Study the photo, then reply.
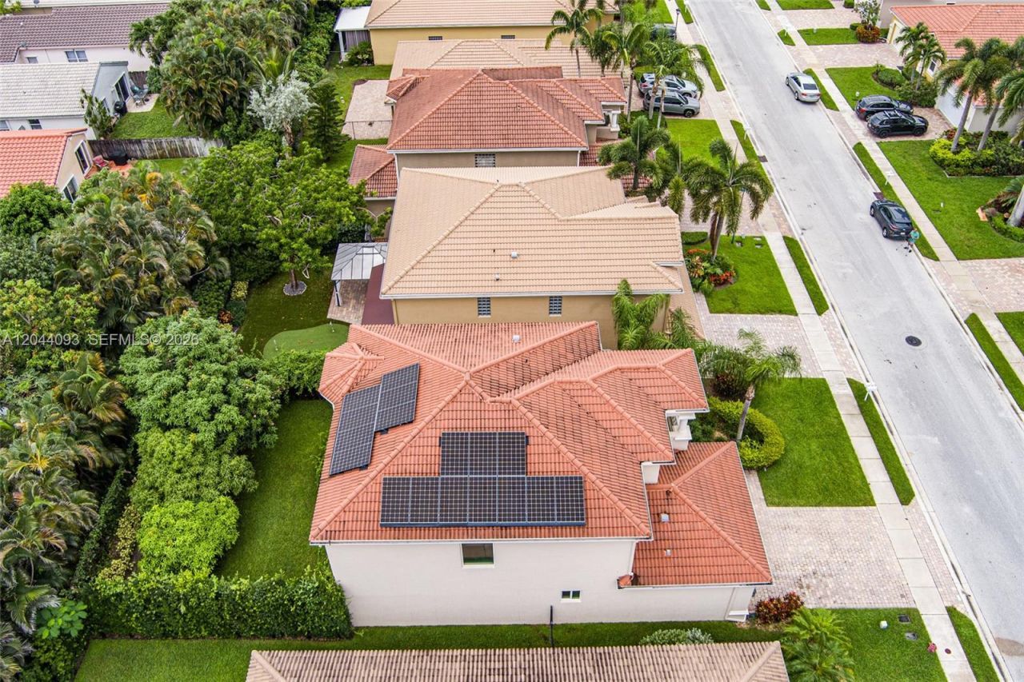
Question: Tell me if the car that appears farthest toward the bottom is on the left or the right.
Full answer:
It is on the right.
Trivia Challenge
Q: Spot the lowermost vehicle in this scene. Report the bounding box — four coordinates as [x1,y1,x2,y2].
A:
[869,197,918,240]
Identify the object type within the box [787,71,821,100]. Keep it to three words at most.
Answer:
car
